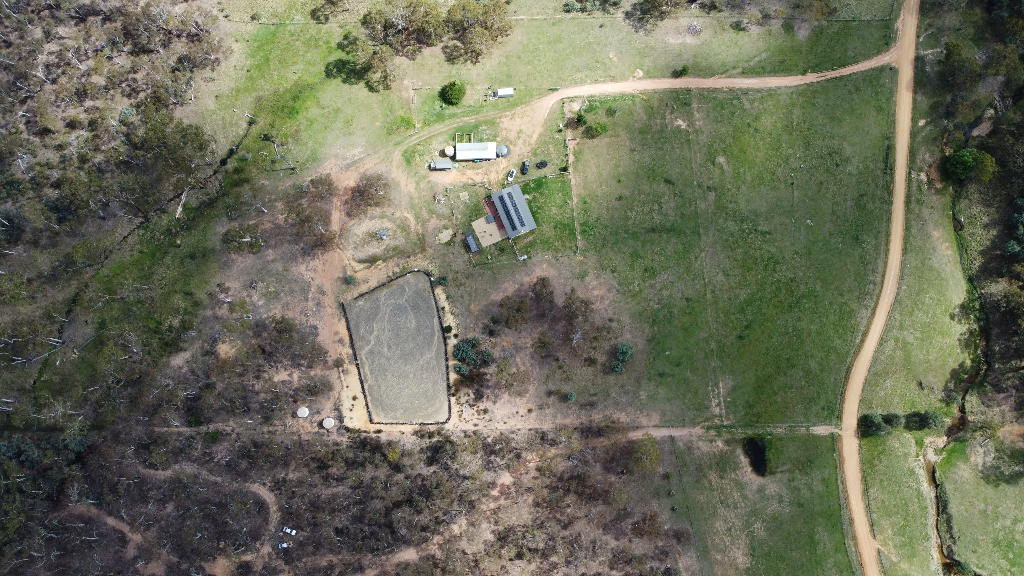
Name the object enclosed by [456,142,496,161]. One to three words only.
shed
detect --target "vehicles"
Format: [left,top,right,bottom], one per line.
[523,159,530,173]
[277,541,293,550]
[282,527,296,535]
[508,168,516,181]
